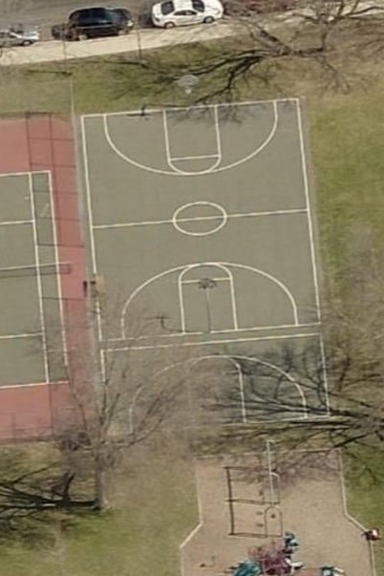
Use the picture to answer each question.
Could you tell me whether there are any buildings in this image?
No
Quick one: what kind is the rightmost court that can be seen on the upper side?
basketball court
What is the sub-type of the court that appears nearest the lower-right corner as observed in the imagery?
basketball court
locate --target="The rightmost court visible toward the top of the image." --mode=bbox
[79,96,324,346]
